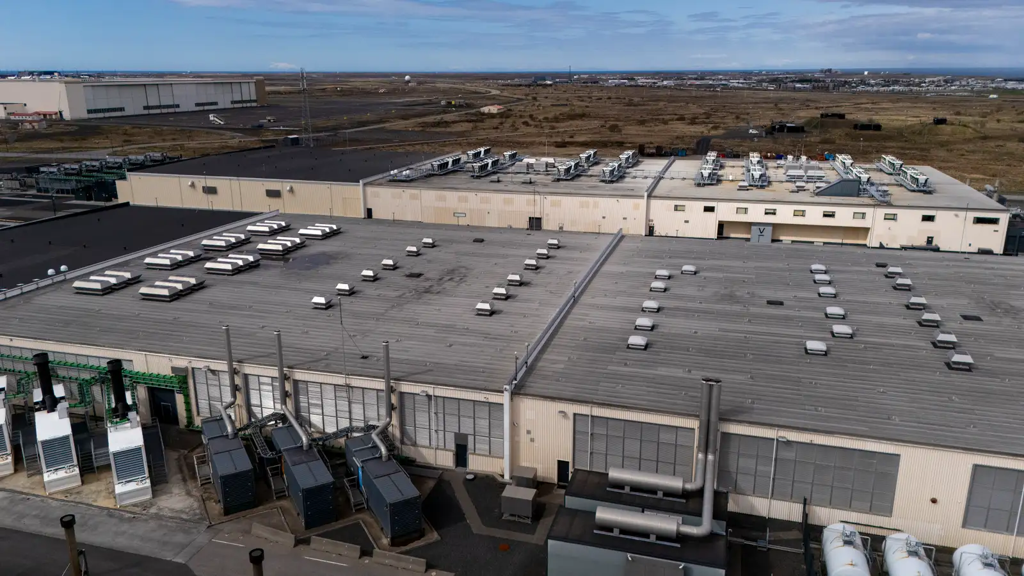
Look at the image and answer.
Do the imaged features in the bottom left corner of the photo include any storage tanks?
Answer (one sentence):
No, I can find no storage tank in the bottom left corner of the photo.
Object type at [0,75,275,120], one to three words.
hangar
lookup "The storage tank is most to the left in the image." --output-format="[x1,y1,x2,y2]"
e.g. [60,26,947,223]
[814,529,875,576]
